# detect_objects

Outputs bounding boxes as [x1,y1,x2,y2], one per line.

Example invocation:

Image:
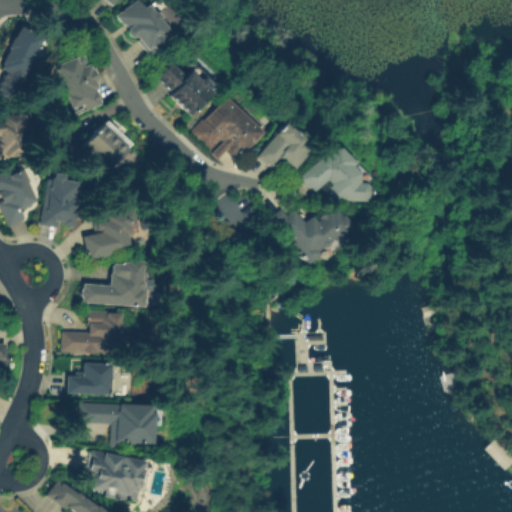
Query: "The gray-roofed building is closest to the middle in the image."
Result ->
[275,206,354,264]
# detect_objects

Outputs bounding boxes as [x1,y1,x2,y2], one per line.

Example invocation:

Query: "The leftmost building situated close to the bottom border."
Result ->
[45,480,106,512]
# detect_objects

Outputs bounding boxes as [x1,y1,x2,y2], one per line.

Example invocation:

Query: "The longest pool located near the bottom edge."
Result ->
[151,472,166,496]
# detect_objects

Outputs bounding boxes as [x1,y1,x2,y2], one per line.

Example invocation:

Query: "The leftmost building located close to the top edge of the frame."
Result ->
[0,26,44,99]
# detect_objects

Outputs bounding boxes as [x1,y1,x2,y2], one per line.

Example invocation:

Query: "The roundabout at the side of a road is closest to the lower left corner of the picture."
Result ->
[0,437,48,494]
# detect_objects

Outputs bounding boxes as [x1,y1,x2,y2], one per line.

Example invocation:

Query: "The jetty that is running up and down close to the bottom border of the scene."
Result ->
[278,318,351,512]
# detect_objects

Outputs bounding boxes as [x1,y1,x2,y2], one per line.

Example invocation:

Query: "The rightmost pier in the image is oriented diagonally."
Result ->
[486,440,512,470]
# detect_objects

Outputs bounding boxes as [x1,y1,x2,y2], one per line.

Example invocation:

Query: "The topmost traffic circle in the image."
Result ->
[10,246,60,300]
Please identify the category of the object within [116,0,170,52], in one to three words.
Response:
house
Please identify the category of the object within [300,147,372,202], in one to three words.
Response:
house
